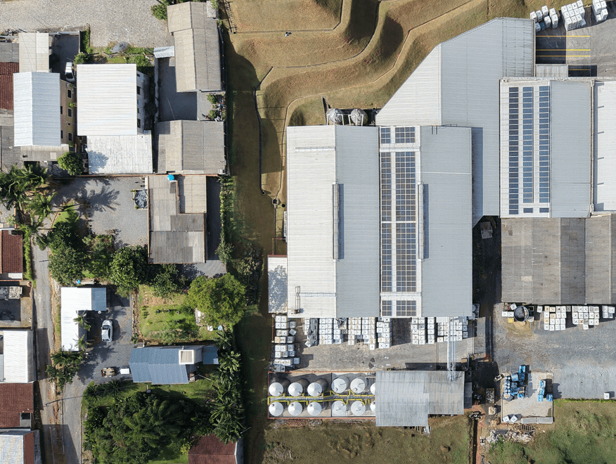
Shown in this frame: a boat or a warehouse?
warehouse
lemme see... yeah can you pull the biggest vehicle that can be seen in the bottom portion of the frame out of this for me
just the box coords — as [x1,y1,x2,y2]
[101,320,114,342]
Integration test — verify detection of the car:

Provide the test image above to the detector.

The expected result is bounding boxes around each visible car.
[101,320,114,342]
[62,59,77,80]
